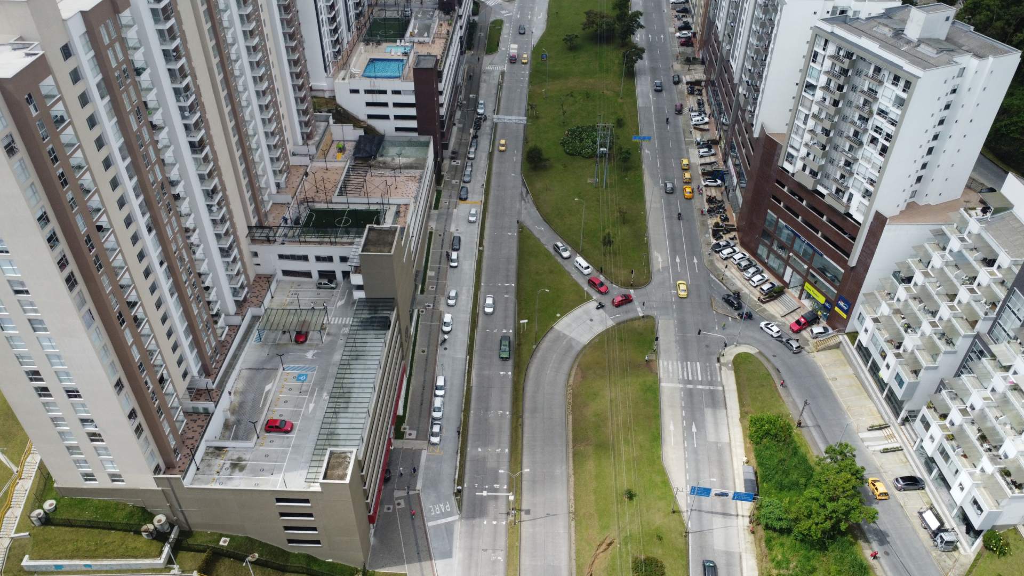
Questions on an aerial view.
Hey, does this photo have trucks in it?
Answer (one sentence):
Yes, looking at the shot, I can spot a truck.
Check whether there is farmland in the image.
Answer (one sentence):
No, there's no farmland in this view.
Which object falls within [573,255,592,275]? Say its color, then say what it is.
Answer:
white vehicle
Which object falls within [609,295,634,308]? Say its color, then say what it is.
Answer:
red vehicle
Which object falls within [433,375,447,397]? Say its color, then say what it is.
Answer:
white car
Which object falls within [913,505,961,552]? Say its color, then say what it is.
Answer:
white truck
